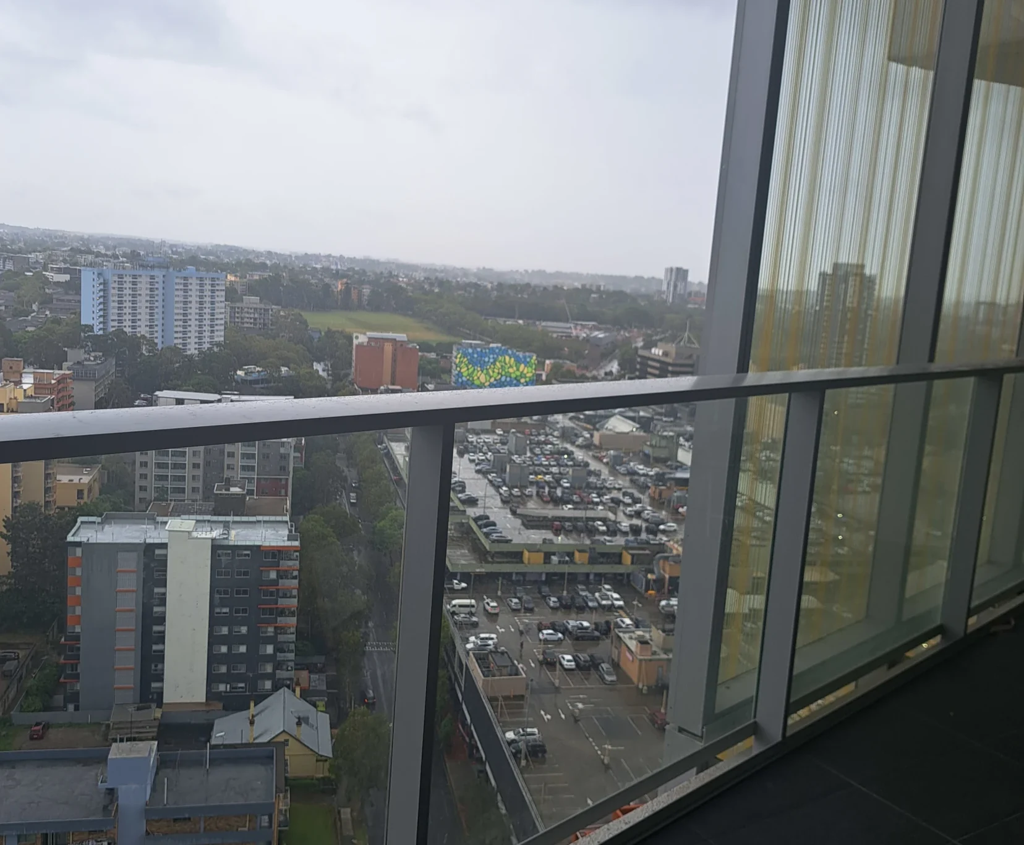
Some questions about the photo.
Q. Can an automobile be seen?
Yes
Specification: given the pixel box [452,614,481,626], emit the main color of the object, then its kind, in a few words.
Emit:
gray vehicle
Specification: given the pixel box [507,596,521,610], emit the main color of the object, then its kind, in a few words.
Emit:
gray car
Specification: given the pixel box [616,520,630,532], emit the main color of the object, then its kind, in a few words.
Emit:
gray vehicle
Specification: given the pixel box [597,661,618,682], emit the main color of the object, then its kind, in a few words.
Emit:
gray car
